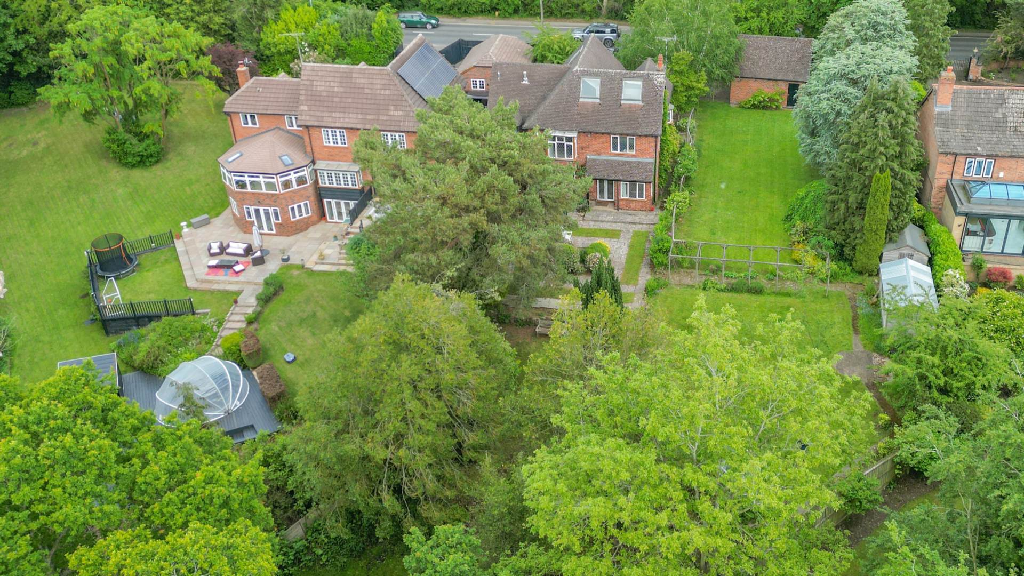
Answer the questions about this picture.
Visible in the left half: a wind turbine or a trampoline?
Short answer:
trampoline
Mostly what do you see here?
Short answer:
trees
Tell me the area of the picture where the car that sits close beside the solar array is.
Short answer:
top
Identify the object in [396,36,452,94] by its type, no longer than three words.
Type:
solar array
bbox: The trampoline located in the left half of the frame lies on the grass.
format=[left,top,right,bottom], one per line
[84,230,135,279]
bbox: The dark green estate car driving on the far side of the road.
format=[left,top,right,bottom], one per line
[396,9,441,31]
